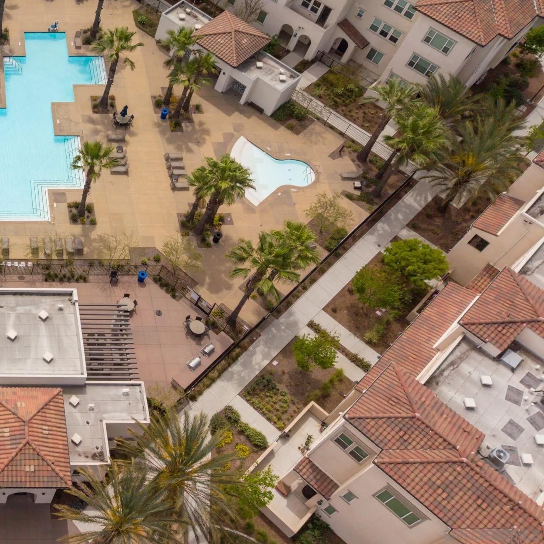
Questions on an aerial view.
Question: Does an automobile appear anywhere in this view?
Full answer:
No, no automobile can be seen from above.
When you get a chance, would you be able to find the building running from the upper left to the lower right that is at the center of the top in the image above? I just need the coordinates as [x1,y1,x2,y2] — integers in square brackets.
[155,0,312,120]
